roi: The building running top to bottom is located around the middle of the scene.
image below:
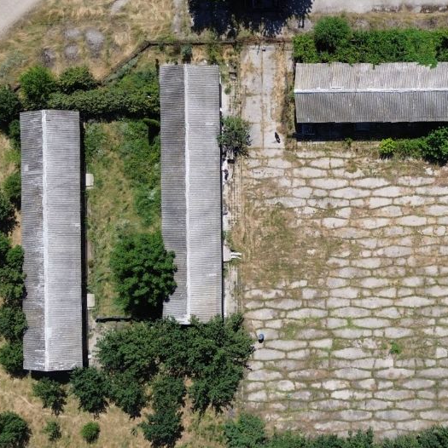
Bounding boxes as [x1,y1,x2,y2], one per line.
[159,60,225,326]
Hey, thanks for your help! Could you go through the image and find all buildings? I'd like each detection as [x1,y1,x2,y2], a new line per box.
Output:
[19,108,91,374]
[159,60,225,326]
[294,61,448,123]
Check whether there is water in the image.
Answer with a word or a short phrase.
No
